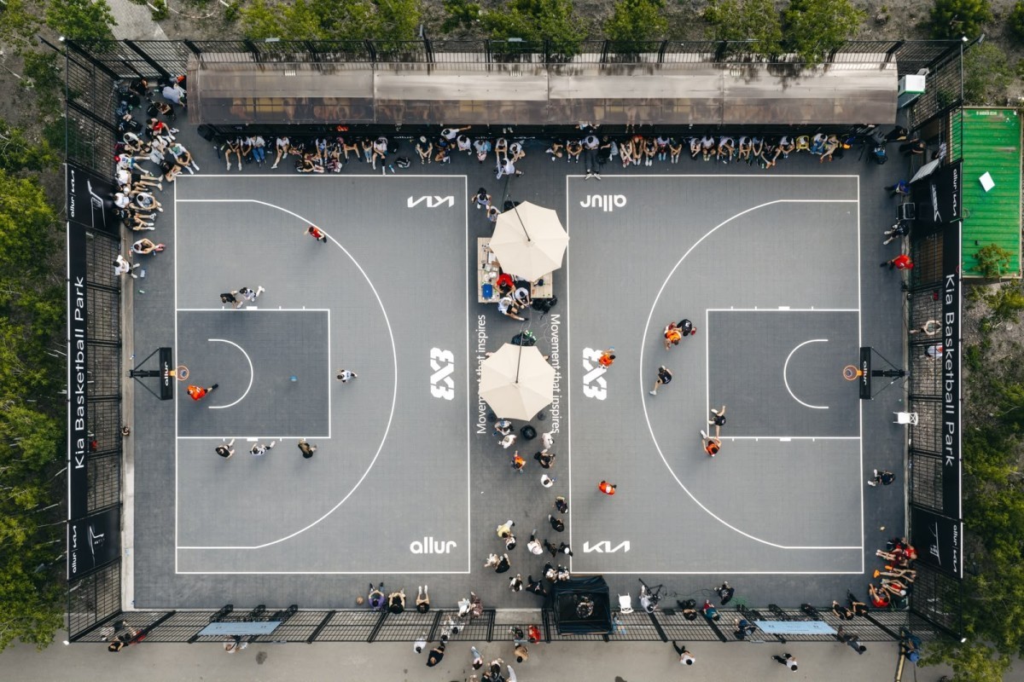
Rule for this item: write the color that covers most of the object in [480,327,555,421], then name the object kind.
white umbrella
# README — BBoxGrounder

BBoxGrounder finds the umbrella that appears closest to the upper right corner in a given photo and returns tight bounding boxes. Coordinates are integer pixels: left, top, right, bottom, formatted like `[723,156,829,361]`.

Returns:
[490,201,569,282]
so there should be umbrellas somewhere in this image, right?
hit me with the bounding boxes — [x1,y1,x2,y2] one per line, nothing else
[480,327,555,421]
[490,201,569,282]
